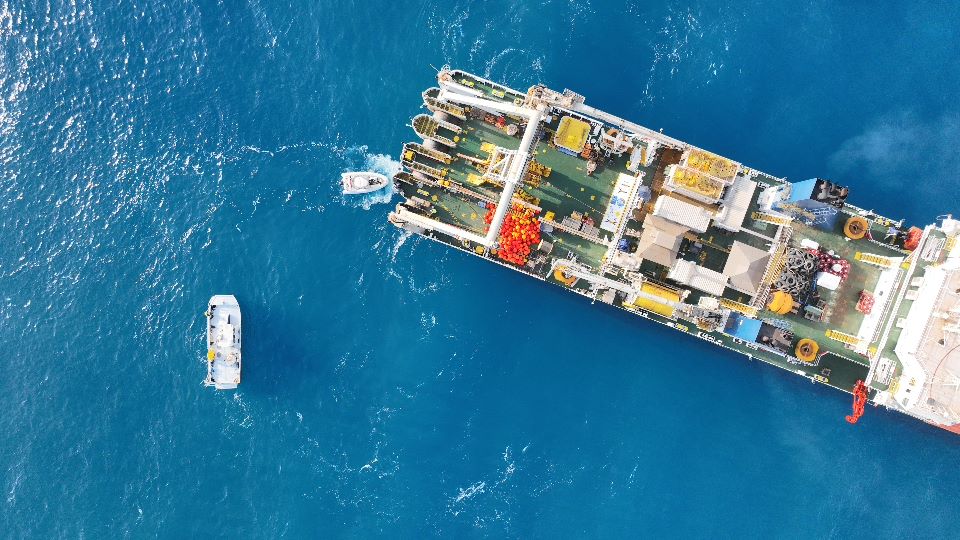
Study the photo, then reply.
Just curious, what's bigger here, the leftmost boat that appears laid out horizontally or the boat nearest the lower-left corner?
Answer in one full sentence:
The boat nearest the lower-left corner is bigger than the leftmost boat that appears laid out horizontally.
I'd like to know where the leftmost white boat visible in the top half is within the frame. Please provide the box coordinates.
[337,171,389,195]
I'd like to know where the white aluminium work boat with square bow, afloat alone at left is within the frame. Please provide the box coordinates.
[204,295,243,390]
